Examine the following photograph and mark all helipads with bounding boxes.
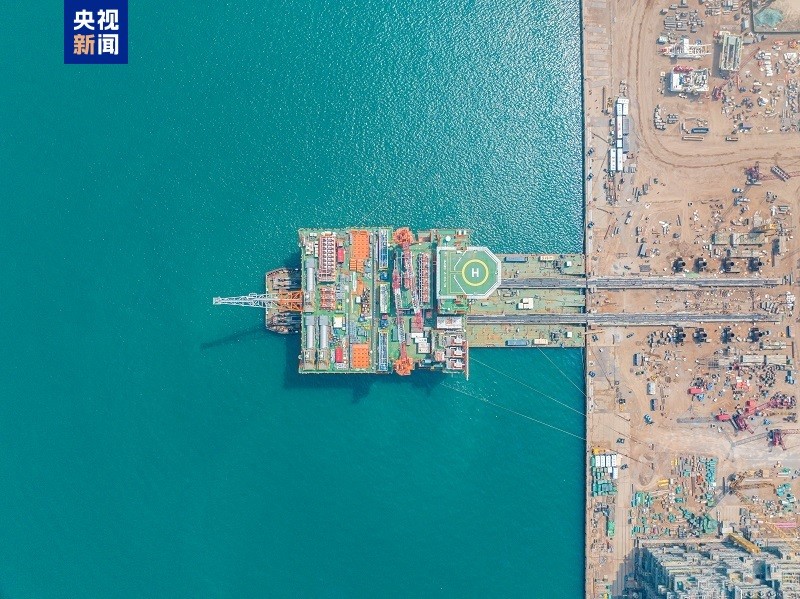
[437,244,501,302]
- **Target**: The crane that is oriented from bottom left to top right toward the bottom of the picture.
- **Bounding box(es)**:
[726,387,790,434]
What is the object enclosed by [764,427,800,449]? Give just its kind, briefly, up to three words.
crane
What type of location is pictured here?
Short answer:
port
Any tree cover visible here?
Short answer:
No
